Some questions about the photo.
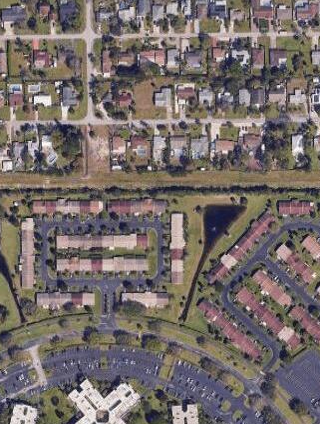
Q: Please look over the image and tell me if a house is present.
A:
Yes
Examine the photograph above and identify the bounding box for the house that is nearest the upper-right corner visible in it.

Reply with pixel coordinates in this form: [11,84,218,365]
[295,1,319,18]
